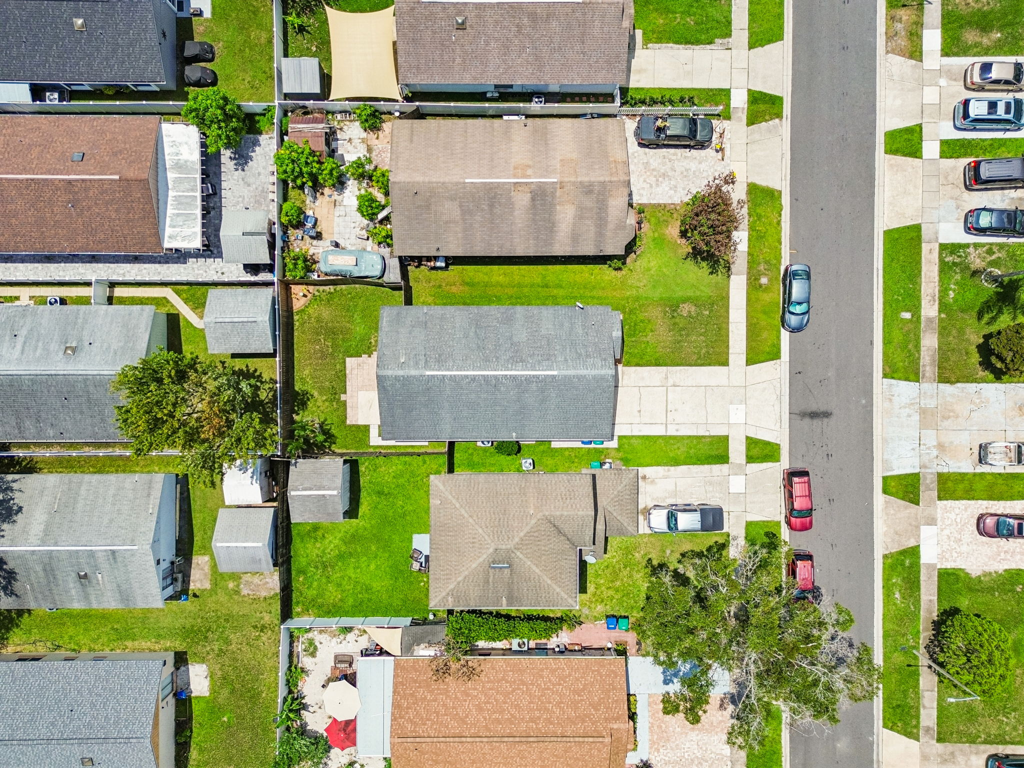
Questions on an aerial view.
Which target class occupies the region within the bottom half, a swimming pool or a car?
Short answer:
car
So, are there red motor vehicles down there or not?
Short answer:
Yes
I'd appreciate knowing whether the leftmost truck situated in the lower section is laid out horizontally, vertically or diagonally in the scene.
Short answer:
horizontally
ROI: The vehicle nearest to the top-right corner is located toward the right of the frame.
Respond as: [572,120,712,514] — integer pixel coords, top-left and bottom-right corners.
[966,58,1024,94]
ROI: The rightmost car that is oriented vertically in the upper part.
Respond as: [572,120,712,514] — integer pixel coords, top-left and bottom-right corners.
[779,263,814,334]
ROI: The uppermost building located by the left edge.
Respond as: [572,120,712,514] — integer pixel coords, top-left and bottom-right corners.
[0,0,178,92]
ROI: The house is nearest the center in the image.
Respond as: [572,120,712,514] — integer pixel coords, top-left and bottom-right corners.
[377,306,622,442]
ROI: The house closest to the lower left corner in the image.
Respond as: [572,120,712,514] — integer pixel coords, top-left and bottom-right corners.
[0,652,178,768]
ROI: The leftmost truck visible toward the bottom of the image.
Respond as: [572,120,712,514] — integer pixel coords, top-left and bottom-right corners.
[645,502,724,536]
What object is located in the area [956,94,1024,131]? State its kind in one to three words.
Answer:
car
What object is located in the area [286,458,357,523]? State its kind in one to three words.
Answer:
shed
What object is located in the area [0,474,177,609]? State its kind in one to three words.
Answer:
house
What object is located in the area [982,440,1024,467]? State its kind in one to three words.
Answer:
truck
